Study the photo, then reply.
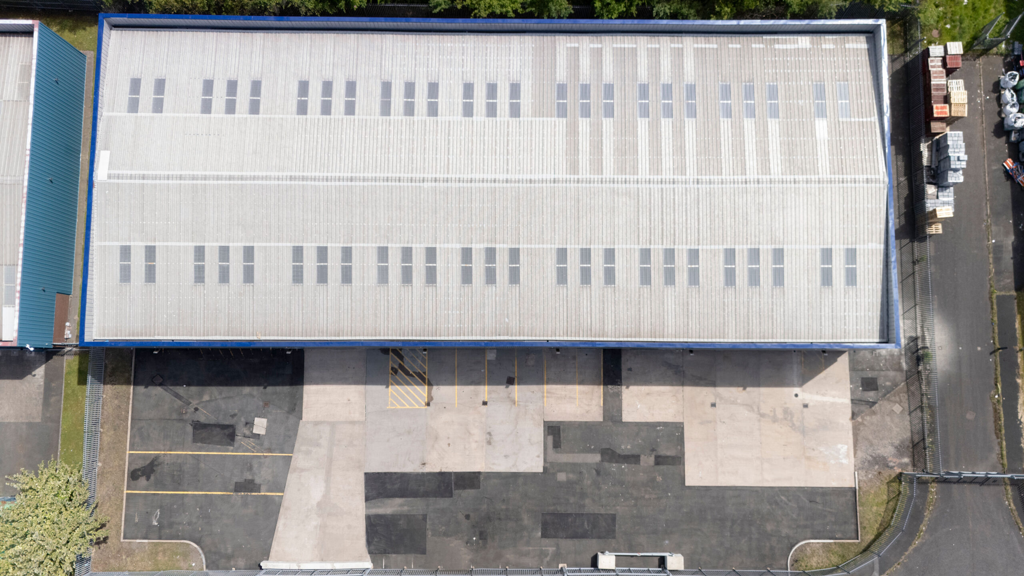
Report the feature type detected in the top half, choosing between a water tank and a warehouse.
warehouse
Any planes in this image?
No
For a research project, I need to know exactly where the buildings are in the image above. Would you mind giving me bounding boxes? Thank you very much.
[0,21,87,347]
[80,14,901,347]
